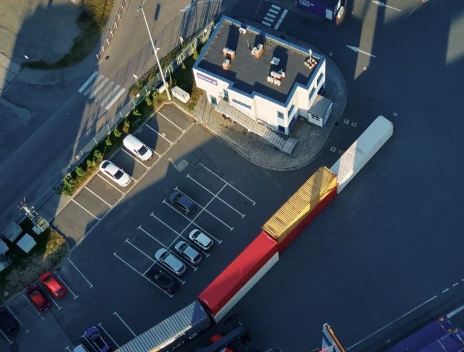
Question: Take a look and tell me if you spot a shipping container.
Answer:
Yes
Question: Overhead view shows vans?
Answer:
Yes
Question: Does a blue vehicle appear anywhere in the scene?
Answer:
Yes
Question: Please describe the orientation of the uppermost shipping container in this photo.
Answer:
at an angle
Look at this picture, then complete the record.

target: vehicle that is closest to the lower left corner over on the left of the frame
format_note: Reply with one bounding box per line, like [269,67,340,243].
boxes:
[0,308,20,338]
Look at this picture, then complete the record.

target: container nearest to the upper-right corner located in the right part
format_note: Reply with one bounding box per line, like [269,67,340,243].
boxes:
[324,110,389,183]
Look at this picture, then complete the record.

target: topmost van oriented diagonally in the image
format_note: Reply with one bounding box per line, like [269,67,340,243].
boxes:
[122,131,153,162]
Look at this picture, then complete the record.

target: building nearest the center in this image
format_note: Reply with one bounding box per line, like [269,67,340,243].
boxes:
[191,16,336,156]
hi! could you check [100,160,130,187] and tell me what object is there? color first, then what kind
white car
